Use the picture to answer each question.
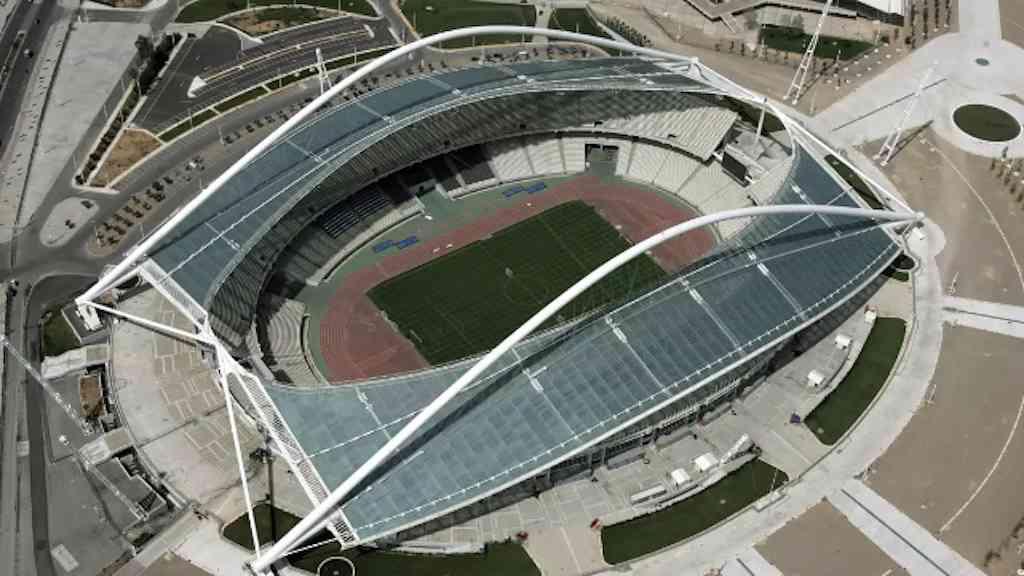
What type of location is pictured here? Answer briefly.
sports ground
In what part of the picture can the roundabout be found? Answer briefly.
top right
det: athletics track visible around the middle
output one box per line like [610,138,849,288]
[288,152,722,385]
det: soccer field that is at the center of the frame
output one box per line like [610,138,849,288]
[367,199,672,369]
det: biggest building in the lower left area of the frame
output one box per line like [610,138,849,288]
[83,449,167,511]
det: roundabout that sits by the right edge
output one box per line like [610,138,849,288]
[933,95,1024,155]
